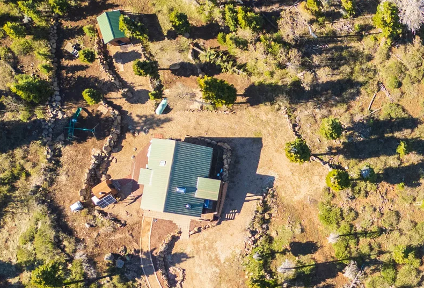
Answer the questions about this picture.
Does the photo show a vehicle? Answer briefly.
No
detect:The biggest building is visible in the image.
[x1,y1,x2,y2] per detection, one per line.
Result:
[136,138,230,226]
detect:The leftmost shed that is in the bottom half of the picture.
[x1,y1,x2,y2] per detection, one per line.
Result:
[92,177,129,199]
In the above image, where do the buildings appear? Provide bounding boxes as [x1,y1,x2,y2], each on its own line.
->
[92,177,129,199]
[136,138,230,226]
[97,11,133,46]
